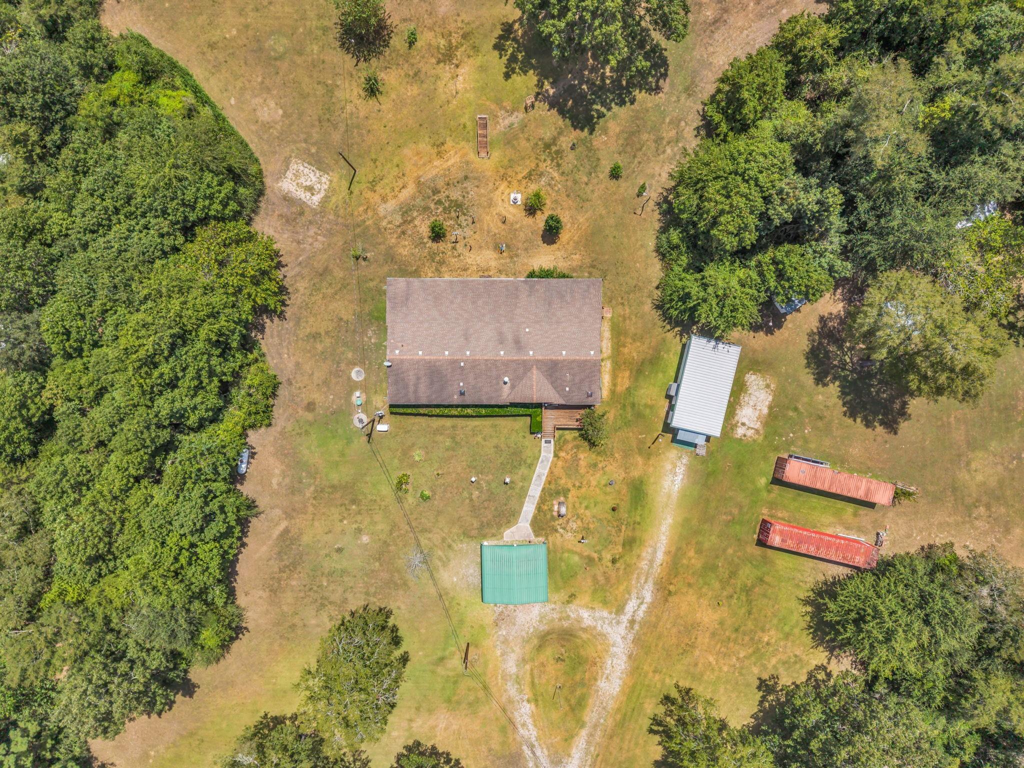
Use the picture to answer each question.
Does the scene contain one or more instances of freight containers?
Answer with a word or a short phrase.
Yes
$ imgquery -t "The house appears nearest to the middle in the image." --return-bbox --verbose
[383,278,603,405]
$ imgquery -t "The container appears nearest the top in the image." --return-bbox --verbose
[773,456,895,506]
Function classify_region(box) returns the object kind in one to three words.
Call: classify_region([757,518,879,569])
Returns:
shipping container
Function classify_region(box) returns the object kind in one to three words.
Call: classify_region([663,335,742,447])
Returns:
building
